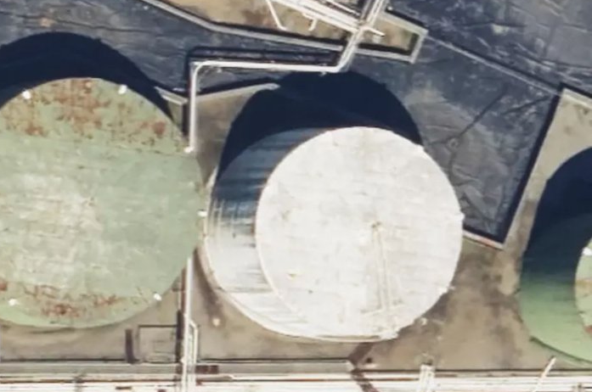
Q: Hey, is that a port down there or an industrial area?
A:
industrial area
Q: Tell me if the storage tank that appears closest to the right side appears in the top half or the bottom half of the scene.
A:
bottom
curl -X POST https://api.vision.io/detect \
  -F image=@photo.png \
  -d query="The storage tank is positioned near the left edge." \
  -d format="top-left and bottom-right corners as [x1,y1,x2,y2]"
[0,78,207,328]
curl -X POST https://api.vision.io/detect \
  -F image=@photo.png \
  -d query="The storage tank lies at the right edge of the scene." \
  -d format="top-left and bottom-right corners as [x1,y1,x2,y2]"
[515,203,592,368]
